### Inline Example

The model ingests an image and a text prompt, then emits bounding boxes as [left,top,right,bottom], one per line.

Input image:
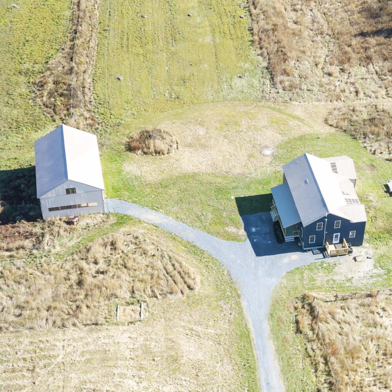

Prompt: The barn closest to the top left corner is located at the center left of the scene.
[34,123,105,218]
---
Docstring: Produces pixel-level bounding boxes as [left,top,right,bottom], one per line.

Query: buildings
[269,151,368,249]
[34,123,105,218]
